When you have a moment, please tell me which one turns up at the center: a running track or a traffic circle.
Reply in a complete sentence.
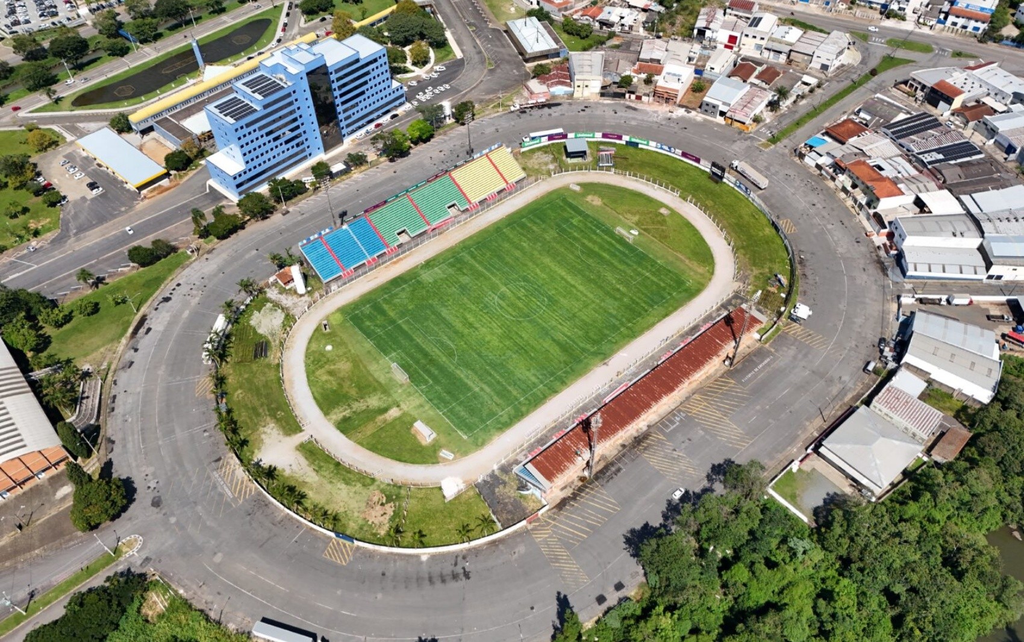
Visible at the center is a running track.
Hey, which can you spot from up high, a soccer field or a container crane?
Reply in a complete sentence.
I can see a soccer field in this picture.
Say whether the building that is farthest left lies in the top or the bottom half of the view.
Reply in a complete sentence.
Seen from above, the building that is farthest left lies in the bottom half of the view.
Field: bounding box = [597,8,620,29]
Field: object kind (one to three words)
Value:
house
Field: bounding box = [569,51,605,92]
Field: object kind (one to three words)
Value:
building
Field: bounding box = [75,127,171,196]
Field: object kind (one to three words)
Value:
shed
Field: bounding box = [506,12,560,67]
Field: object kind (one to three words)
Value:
building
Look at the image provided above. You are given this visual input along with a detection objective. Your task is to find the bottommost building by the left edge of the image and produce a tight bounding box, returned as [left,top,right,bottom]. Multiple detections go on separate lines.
[0,338,85,516]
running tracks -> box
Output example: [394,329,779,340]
[283,171,736,486]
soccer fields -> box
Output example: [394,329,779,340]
[344,194,692,441]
